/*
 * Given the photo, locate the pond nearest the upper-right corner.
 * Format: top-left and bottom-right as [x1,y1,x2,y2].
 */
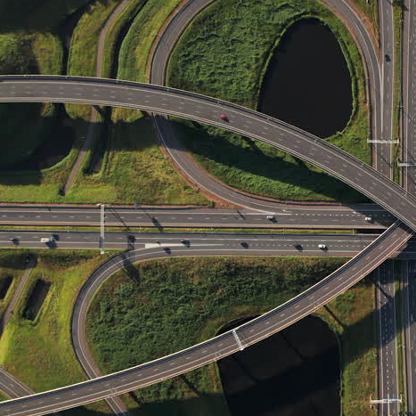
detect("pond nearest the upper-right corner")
[256,14,354,139]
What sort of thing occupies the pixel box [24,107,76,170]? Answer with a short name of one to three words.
pond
